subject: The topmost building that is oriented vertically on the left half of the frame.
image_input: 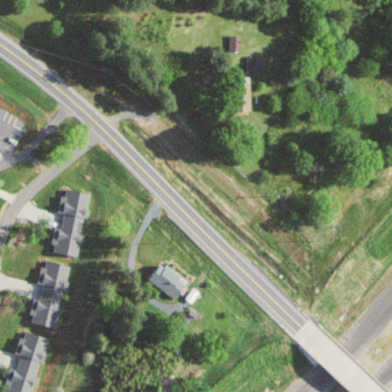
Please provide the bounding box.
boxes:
[50,189,90,258]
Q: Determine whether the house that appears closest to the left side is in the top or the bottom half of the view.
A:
bottom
